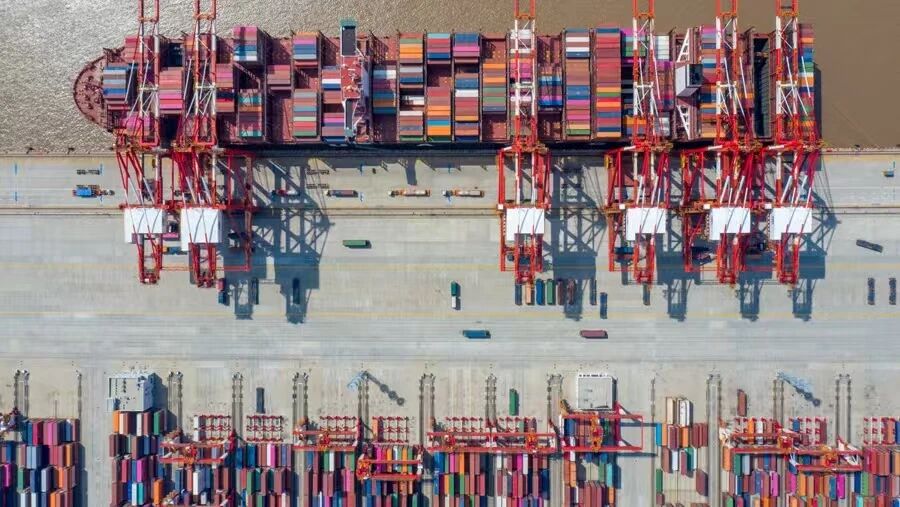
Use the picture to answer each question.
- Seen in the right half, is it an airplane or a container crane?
container crane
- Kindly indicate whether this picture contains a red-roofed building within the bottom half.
No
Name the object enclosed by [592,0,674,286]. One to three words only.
container crane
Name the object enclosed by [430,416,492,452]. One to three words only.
crane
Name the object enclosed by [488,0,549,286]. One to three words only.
container crane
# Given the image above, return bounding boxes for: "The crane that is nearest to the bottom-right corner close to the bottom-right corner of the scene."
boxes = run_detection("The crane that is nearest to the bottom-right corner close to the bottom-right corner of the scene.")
[780,434,862,470]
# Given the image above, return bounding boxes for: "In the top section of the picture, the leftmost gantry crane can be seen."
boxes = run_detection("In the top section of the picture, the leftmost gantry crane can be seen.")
[111,0,203,286]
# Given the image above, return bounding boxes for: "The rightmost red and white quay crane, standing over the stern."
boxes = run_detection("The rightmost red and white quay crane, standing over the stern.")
[724,0,830,286]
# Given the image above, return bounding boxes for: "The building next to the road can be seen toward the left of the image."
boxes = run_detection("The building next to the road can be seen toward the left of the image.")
[108,370,158,411]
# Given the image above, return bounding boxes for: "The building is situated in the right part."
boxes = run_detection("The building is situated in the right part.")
[575,373,613,409]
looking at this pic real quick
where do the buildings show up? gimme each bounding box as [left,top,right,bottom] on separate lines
[108,370,158,411]
[575,373,613,409]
